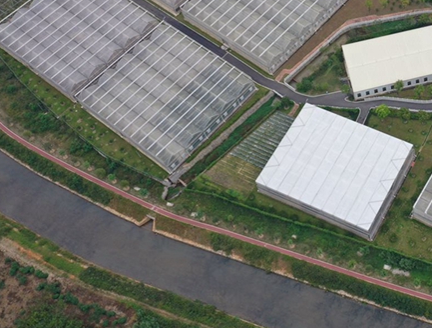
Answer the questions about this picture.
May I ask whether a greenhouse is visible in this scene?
Yes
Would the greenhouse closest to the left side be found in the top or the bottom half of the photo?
top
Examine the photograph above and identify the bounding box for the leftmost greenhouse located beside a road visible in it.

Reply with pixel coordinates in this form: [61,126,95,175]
[0,0,155,101]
